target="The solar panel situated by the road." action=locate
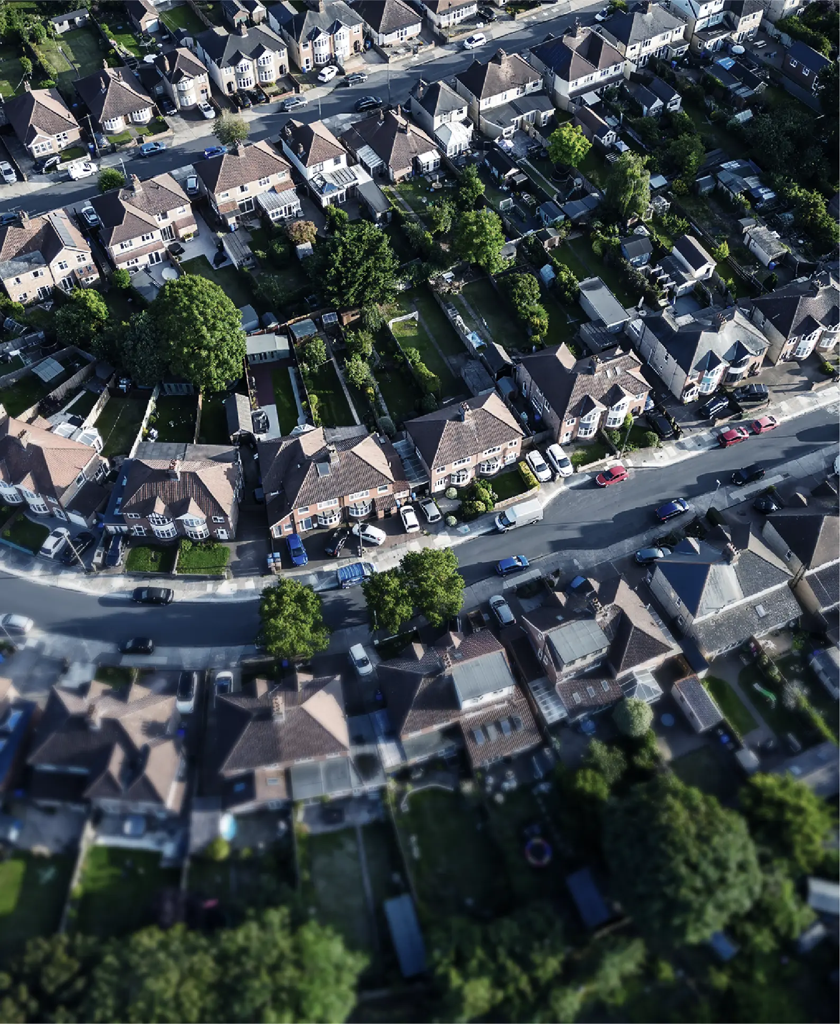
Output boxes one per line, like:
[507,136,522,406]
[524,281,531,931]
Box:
[545,39,576,69]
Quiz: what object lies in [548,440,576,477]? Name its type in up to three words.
car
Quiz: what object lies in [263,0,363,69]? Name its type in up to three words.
house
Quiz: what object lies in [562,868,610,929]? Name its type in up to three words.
shed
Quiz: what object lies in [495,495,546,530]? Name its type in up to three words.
van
